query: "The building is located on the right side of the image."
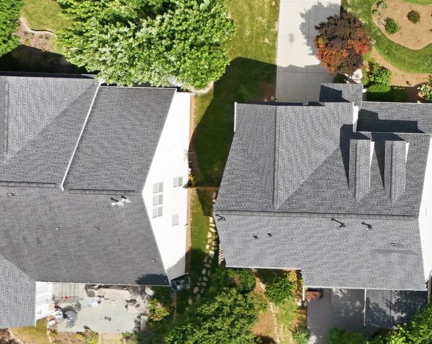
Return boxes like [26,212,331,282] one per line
[211,83,432,344]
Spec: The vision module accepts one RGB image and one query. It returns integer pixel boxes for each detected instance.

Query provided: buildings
[211,83,432,344]
[0,71,186,328]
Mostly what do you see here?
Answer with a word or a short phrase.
buildings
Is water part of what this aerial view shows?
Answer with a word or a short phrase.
No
